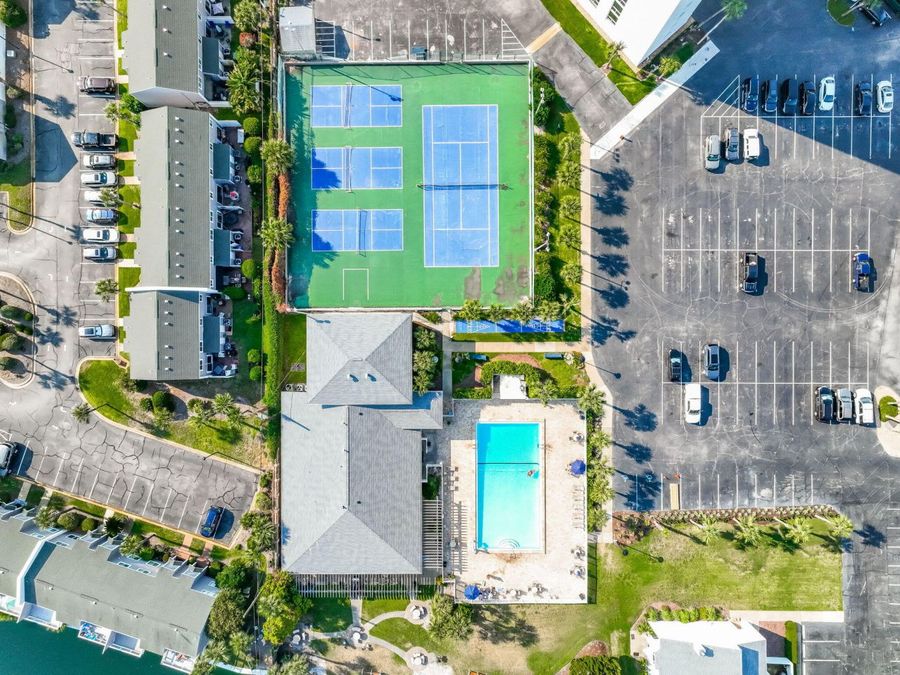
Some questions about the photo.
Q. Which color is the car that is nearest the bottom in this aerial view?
blue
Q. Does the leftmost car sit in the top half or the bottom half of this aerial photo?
bottom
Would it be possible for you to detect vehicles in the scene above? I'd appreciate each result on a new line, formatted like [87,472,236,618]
[854,388,875,424]
[83,152,116,169]
[799,81,817,117]
[780,78,800,116]
[740,253,758,294]
[875,81,894,114]
[78,323,117,339]
[814,386,833,422]
[80,76,117,94]
[73,131,119,149]
[761,79,780,114]
[703,345,721,379]
[85,207,120,224]
[835,388,855,422]
[84,191,120,205]
[82,226,121,243]
[81,171,118,187]
[817,76,836,112]
[667,350,683,382]
[0,440,20,476]
[742,128,760,161]
[83,244,119,261]
[854,80,874,117]
[703,134,722,171]
[722,127,741,162]
[741,76,760,113]
[852,252,873,292]
[200,503,224,539]
[684,382,703,423]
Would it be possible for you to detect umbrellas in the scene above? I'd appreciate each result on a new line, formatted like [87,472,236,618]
[461,582,479,599]
[219,209,238,229]
[209,0,225,15]
[230,190,243,200]
[570,459,586,475]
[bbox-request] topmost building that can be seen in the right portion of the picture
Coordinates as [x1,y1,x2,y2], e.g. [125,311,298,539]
[572,0,699,69]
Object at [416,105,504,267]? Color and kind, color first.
blue tennis court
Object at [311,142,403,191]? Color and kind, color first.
blue sports court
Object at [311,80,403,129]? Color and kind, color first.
blue sports court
